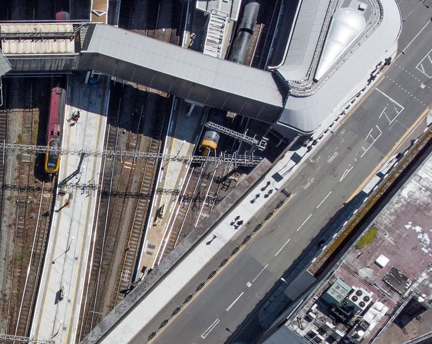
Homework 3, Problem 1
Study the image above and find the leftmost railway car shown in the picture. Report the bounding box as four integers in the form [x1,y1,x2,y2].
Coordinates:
[43,76,68,186]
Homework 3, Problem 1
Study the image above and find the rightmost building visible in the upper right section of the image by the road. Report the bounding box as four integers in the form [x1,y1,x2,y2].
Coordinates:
[262,0,402,153]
